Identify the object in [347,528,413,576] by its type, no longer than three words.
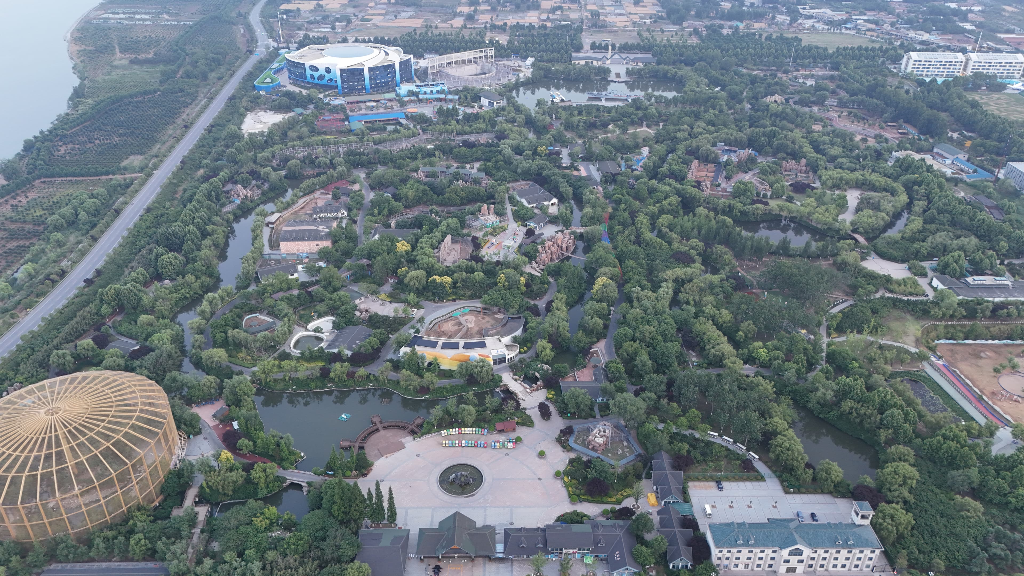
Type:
shed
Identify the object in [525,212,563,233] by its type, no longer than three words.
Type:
building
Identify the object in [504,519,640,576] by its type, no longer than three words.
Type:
building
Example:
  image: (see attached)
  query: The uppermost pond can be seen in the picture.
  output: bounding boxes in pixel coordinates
[509,78,684,113]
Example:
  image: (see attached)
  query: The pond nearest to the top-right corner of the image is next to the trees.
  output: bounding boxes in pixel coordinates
[732,201,910,249]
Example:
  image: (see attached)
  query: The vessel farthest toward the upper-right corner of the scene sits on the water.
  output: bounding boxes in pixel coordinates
[587,82,645,99]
